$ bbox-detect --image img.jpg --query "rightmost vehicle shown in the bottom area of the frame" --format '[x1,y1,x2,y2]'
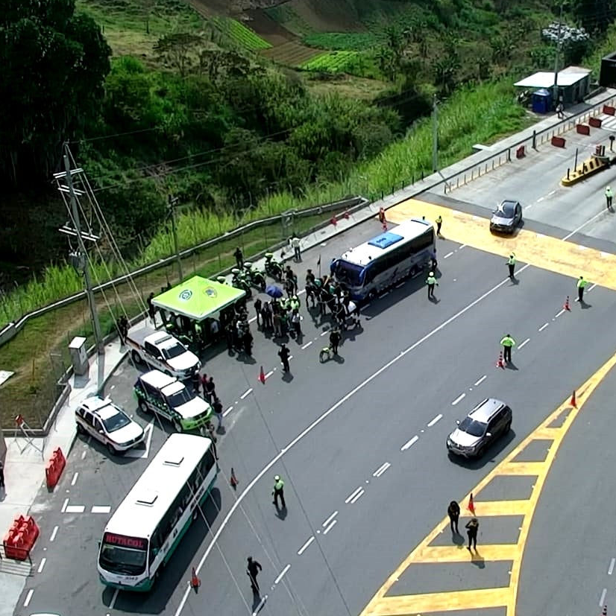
[446,398,517,461]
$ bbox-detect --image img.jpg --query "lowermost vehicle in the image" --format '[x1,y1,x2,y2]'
[87,433,219,593]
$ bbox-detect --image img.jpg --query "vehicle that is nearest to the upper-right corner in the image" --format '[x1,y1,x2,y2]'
[491,200,521,235]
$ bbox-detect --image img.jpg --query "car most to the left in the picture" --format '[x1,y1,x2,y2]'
[73,392,146,458]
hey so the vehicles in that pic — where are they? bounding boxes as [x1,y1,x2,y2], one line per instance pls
[247,263,265,292]
[446,398,517,461]
[491,200,521,235]
[232,269,250,298]
[172,318,197,347]
[87,433,219,593]
[129,369,208,436]
[264,254,282,283]
[73,392,146,458]
[120,330,201,383]
[334,214,446,305]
